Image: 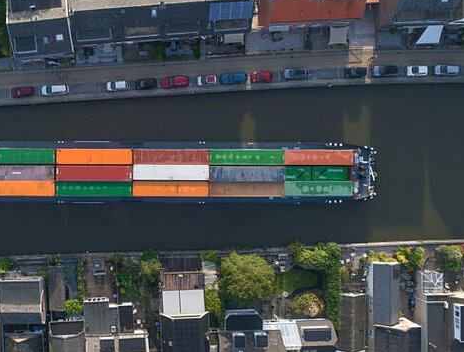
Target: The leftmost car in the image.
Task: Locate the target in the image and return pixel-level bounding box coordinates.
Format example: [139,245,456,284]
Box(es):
[11,86,34,98]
